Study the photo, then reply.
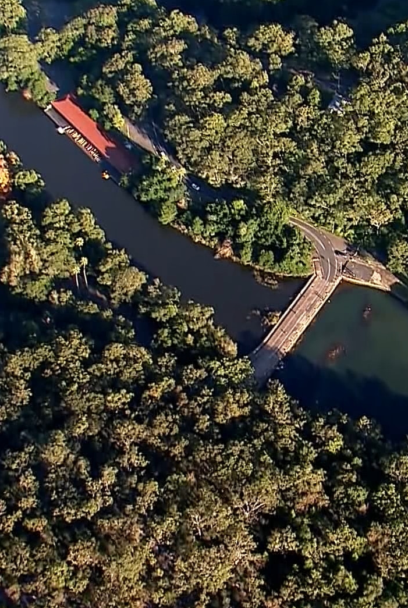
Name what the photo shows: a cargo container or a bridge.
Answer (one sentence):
I can see a bridge in this picture.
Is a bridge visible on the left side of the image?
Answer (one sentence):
No, on the left side of the image there is no bridge.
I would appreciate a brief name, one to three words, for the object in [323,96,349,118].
shed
